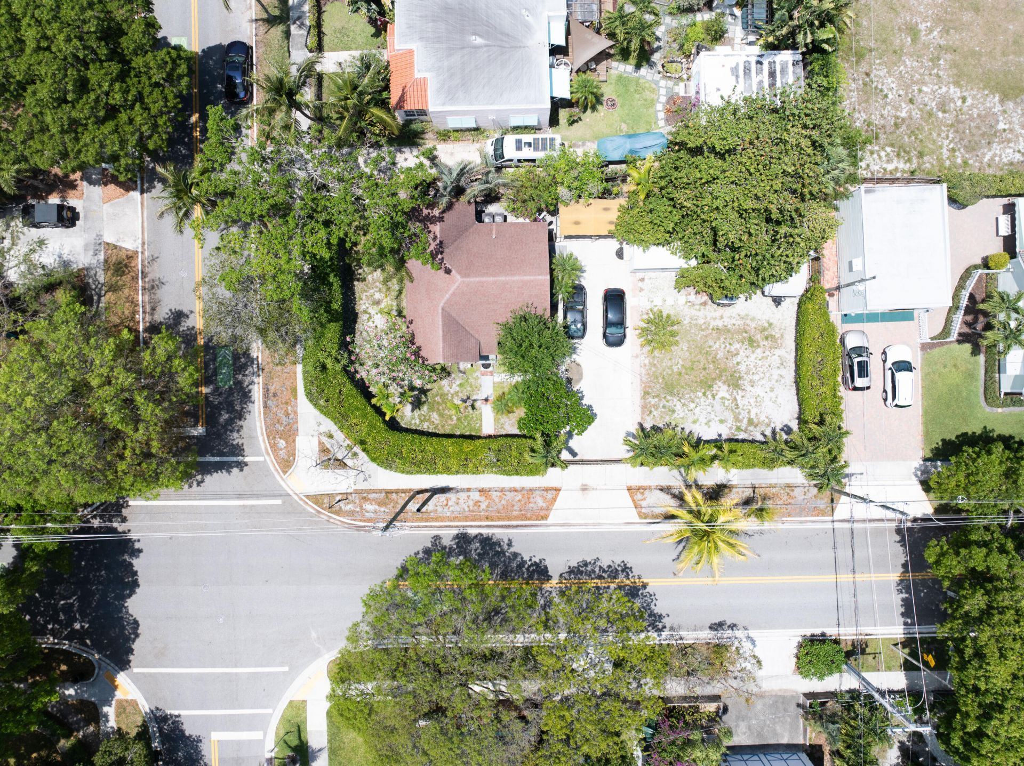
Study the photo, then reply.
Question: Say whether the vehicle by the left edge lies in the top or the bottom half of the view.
top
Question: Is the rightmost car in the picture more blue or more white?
white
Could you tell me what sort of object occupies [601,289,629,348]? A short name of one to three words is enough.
car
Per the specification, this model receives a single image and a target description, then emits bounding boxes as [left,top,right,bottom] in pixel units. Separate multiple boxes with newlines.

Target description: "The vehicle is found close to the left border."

[24,203,76,229]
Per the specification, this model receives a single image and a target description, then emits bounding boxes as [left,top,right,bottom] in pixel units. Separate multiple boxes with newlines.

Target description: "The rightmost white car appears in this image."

[880,345,915,407]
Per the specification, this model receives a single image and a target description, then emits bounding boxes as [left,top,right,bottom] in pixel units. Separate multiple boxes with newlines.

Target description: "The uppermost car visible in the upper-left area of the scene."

[222,42,254,104]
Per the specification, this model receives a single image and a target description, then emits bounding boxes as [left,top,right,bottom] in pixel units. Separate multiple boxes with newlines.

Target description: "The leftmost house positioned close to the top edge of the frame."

[387,0,570,139]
